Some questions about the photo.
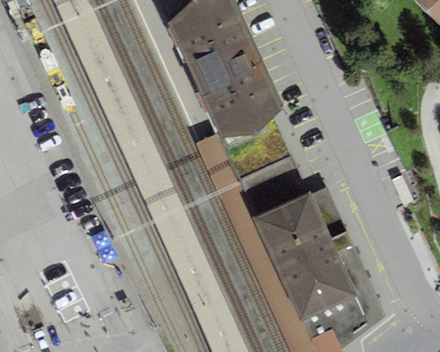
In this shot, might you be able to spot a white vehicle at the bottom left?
Yes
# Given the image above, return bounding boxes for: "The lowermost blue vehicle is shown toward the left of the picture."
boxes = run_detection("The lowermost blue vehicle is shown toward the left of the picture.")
[46,326,61,346]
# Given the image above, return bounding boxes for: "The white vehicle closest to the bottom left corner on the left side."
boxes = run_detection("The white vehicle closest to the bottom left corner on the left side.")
[33,328,50,352]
